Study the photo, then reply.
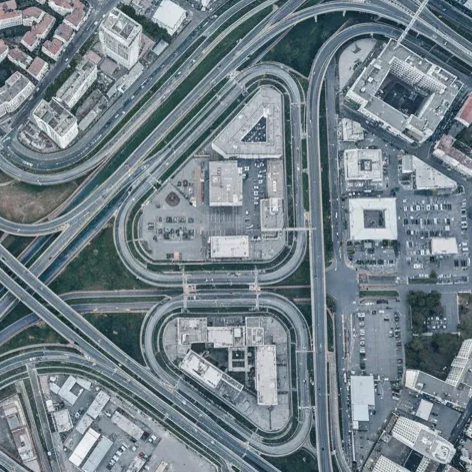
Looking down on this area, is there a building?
Yes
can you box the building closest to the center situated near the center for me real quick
[208,236,249,257]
